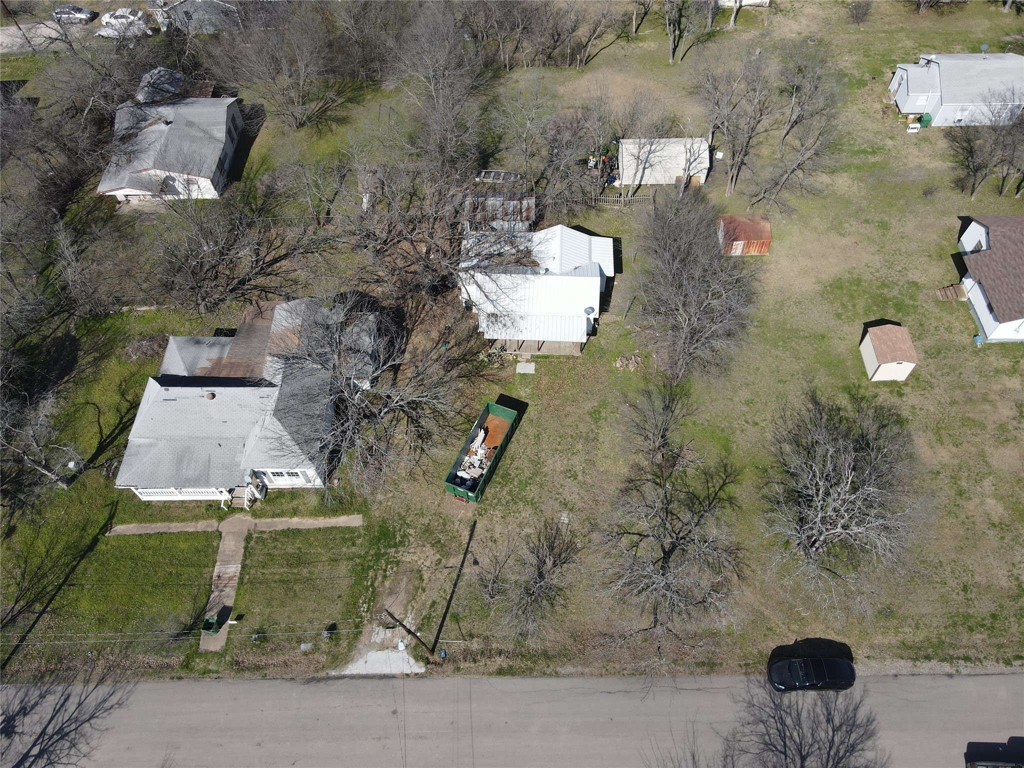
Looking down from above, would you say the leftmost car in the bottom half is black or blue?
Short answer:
black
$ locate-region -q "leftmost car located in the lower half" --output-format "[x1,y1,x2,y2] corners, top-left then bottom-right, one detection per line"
[764,656,856,700]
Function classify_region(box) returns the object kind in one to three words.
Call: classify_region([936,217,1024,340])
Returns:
house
